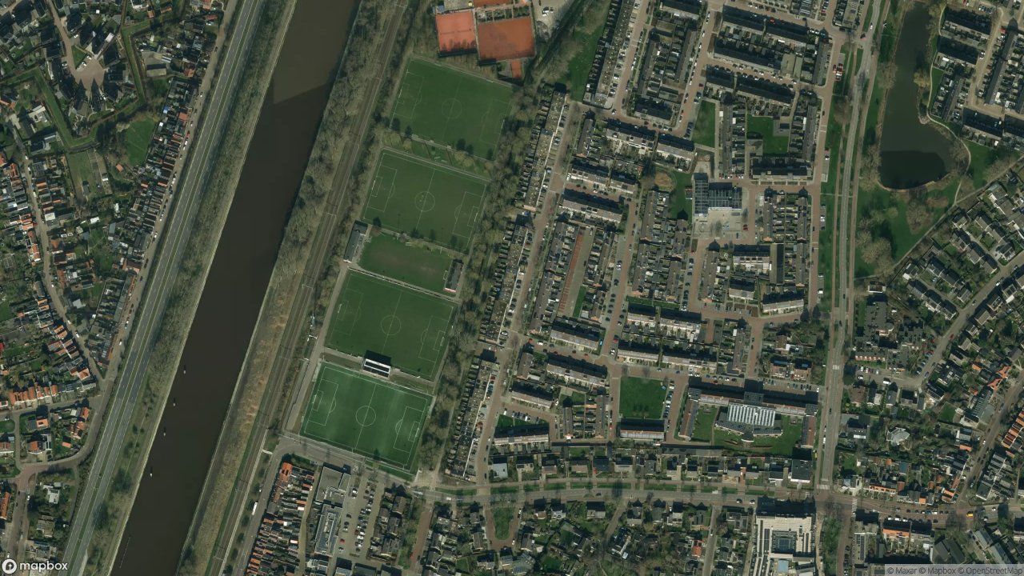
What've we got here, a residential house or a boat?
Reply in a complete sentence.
There is a residential house in the scene.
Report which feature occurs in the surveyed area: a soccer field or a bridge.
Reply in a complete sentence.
The one in the frame is a soccer field.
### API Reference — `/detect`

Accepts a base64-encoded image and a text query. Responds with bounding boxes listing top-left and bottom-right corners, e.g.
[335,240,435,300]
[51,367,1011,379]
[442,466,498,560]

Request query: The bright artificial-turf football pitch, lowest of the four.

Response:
[298,362,433,471]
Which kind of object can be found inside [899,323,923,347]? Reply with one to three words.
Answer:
building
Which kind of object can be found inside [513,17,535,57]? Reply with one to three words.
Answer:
tennis court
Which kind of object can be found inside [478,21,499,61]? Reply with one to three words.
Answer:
tennis court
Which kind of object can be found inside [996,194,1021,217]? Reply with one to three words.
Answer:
house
